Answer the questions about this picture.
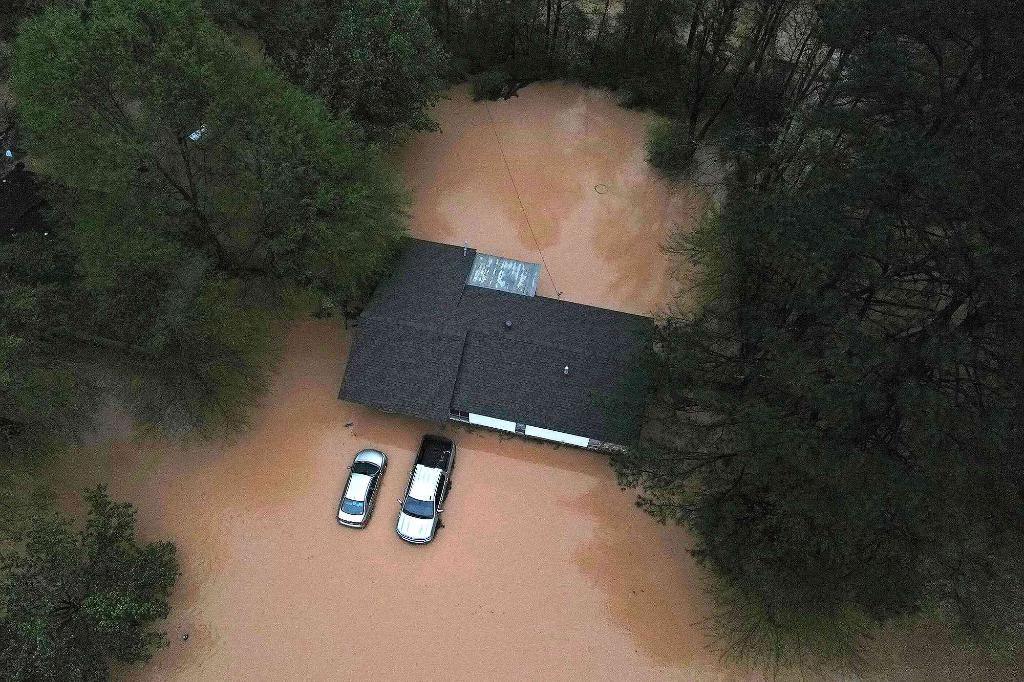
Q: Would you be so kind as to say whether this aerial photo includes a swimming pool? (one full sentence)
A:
No, this view has no swimming pool in it.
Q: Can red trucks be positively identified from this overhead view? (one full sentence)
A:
No, the photo shows no red truck.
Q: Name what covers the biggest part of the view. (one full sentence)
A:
For the most part, this view shows trees.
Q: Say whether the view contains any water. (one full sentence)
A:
Yes, water shows up in the scene.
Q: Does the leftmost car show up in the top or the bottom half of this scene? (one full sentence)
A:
It is in the bottom half that the leftmost car appears.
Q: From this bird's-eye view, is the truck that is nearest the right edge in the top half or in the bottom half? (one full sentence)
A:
You can find the truck that is nearest the right edge in the bottom half.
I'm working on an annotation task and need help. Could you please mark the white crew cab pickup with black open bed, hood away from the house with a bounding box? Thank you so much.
[397,434,458,546]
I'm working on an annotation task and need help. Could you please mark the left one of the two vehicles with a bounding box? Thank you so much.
[335,446,385,533]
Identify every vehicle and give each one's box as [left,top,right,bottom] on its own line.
[335,446,385,533]
[397,434,458,546]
